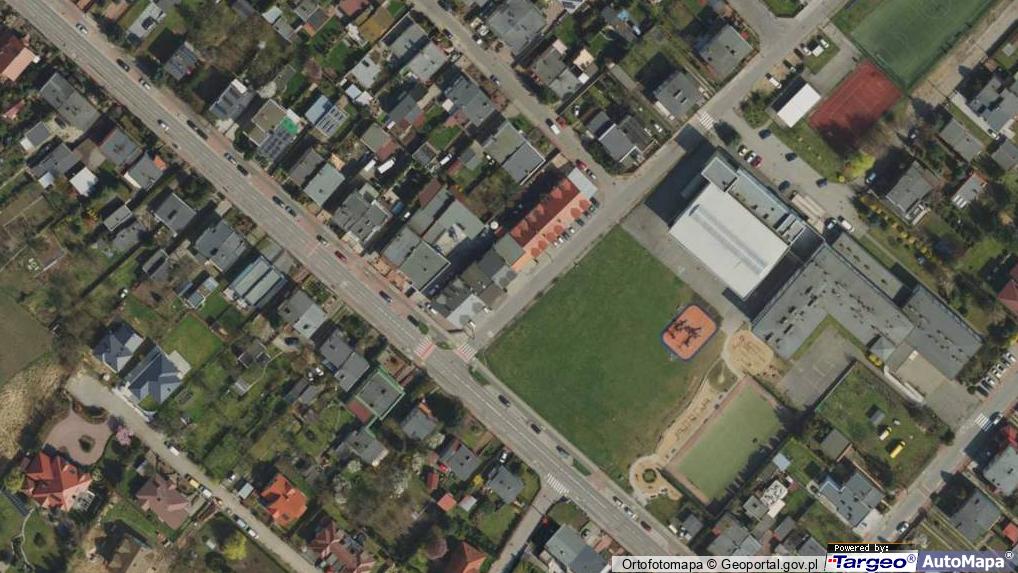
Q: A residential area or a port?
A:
residential area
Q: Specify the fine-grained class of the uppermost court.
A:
tennis court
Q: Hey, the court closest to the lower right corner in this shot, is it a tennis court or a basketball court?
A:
basketball court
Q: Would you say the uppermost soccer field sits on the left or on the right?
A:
right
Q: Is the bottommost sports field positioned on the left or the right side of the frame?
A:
right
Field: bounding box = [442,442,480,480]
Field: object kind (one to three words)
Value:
house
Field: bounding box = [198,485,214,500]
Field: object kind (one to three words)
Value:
vehicle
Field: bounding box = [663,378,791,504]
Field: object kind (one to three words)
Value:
sports field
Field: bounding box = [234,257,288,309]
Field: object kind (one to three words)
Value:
building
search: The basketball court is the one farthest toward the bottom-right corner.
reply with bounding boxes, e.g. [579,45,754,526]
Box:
[791,343,843,401]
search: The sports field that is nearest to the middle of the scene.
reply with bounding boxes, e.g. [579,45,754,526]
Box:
[488,230,734,483]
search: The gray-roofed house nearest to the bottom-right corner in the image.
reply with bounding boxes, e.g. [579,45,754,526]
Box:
[951,490,1004,542]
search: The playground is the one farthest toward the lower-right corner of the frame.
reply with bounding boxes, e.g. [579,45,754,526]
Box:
[721,329,775,379]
